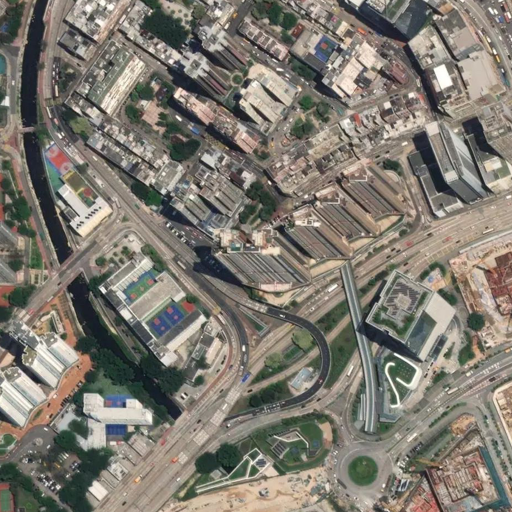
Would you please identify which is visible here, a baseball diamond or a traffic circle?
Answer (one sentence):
There is a traffic circle in the scene.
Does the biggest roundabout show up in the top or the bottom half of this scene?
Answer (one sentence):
You can find the biggest roundabout in the bottom half.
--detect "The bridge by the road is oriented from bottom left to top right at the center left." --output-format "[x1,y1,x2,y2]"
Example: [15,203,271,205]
[34,250,89,308]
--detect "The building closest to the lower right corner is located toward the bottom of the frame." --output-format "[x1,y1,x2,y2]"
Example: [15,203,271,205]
[434,447,498,512]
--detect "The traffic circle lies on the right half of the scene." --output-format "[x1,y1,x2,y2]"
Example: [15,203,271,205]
[336,442,390,498]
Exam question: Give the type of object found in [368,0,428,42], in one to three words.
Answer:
building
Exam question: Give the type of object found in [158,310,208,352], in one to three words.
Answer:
building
